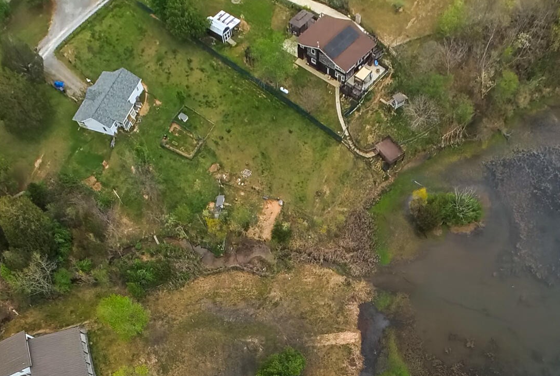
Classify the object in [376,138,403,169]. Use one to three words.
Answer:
building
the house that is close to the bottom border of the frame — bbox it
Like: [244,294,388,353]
[0,326,95,376]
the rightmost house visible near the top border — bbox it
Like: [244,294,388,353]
[297,10,369,90]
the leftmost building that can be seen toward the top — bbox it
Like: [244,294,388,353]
[72,69,139,143]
